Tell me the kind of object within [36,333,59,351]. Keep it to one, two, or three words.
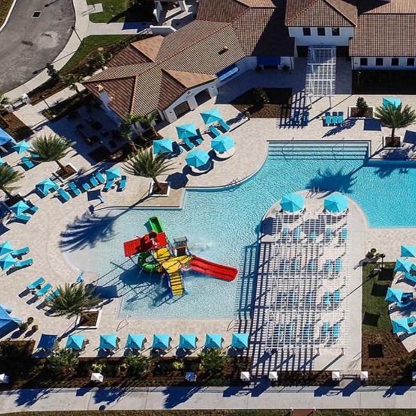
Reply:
umbrella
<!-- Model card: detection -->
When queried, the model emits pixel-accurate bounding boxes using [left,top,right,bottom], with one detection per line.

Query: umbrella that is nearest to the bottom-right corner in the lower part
[393,316,413,336]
